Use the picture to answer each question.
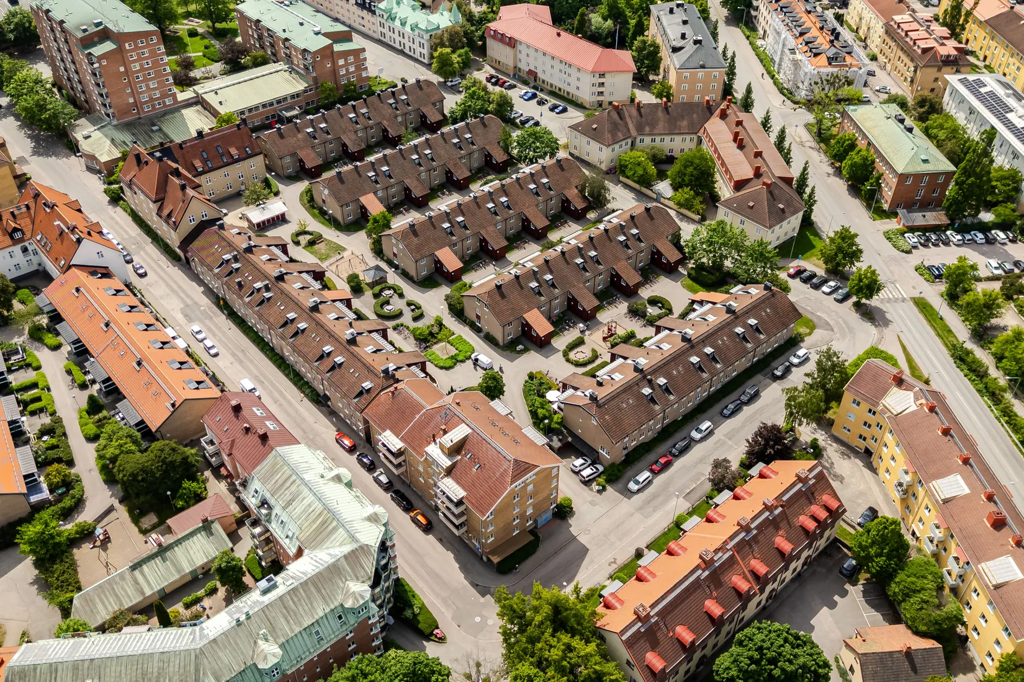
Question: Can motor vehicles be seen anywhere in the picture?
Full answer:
Yes, you can see a motor vehicle in this photo.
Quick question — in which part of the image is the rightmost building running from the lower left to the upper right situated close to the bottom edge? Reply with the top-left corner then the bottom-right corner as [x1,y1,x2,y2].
[585,460,845,682]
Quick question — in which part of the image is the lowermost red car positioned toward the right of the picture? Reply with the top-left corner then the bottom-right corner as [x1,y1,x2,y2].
[649,453,675,474]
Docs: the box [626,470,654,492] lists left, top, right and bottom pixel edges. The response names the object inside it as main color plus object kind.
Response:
white car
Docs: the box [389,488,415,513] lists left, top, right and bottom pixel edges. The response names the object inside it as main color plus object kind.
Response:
black car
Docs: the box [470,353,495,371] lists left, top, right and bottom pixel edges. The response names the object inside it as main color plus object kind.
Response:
white vehicle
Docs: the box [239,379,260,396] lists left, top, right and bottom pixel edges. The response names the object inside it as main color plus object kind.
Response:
white vehicle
